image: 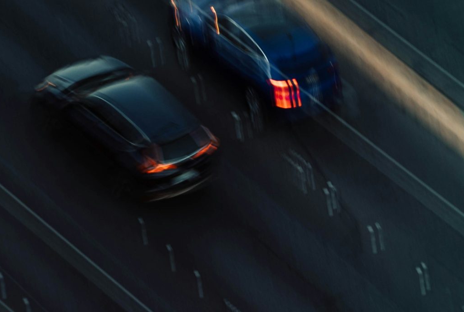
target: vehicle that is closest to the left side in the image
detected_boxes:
[41,54,213,189]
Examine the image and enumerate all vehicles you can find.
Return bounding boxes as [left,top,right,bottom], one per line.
[41,54,213,189]
[172,0,341,119]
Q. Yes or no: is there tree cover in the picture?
No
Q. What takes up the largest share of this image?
paved ground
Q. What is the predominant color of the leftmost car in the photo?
black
